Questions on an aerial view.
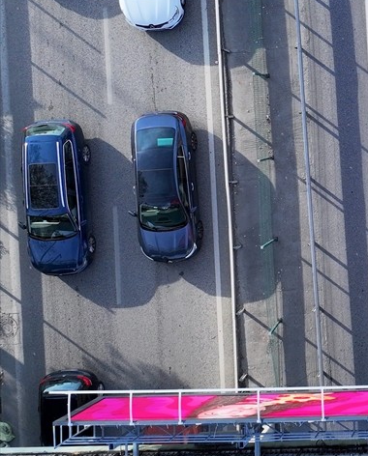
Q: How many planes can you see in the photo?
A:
0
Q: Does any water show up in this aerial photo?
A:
No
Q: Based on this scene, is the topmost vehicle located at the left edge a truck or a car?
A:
car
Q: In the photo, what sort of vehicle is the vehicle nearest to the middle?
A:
automobile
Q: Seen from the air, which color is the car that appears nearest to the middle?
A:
black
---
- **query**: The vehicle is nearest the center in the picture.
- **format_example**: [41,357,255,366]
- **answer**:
[126,113,206,260]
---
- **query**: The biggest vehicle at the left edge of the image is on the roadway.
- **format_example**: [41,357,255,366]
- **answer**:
[9,124,100,273]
